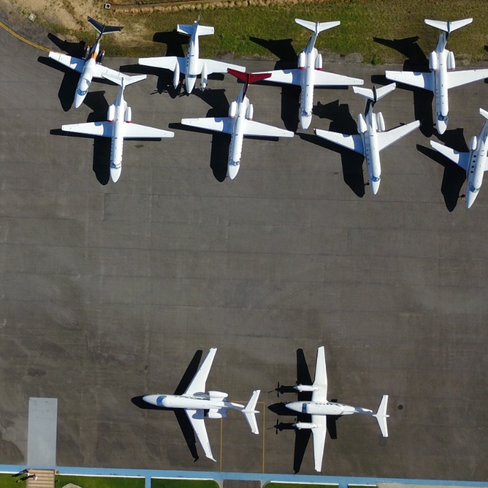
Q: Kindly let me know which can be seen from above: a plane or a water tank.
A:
plane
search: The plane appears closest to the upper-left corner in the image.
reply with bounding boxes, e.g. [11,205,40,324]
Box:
[48,16,129,107]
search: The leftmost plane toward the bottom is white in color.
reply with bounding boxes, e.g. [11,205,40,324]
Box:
[143,349,262,463]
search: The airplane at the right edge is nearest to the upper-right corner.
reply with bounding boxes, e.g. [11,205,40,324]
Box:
[386,17,488,134]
